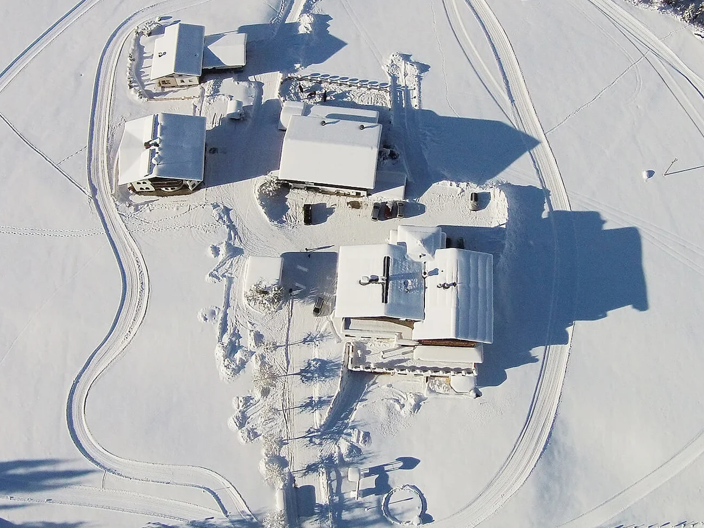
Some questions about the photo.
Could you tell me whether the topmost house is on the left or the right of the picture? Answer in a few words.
left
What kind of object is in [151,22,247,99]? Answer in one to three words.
house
